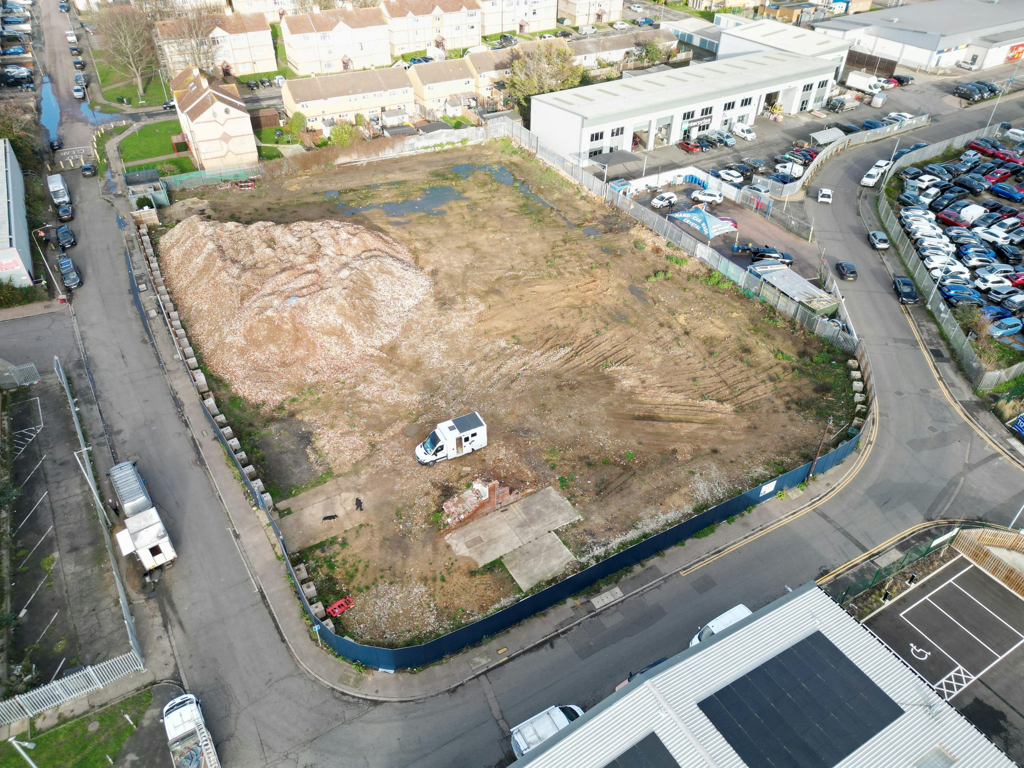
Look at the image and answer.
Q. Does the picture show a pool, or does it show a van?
van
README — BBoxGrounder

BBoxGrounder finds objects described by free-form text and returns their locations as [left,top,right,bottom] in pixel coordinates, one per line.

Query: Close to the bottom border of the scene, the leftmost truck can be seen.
[162,690,221,768]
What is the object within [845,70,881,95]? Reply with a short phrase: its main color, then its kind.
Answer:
white vehicle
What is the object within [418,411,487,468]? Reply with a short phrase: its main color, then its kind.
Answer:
white van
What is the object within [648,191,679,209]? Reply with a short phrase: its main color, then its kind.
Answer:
white car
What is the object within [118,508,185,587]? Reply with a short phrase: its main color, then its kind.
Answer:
white trailer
